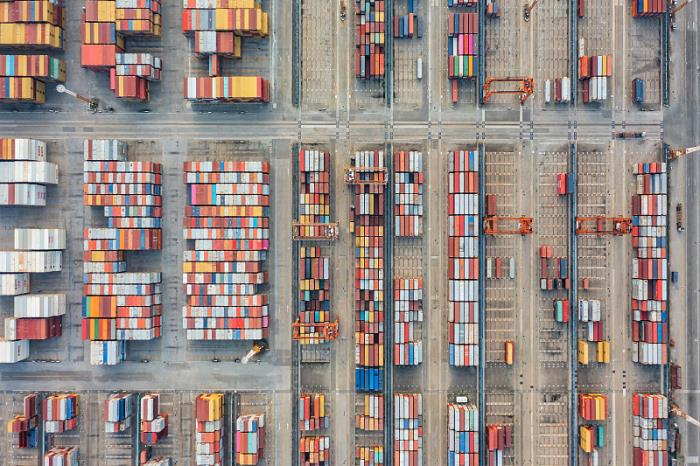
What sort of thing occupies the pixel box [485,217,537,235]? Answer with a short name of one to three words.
container crane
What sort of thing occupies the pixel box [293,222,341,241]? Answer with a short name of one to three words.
container crane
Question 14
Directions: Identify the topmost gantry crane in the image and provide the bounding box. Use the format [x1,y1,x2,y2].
[485,78,537,105]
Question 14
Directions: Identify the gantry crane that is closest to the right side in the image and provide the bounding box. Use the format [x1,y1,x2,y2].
[577,217,630,235]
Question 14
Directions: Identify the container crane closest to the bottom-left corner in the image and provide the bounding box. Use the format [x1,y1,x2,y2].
[293,315,340,340]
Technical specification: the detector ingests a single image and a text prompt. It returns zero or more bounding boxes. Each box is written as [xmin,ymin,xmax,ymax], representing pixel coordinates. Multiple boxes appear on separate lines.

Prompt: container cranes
[293,315,340,340]
[485,78,537,105]
[293,222,341,241]
[577,217,630,235]
[485,217,537,235]
[343,167,389,189]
